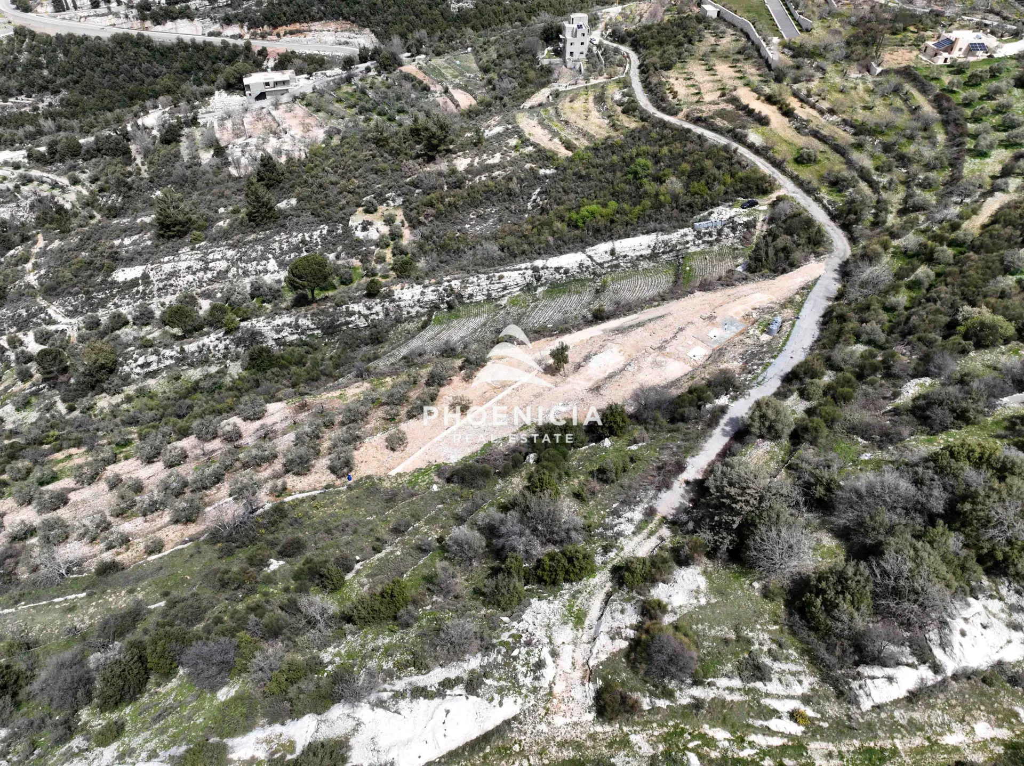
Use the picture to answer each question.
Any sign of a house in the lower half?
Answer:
No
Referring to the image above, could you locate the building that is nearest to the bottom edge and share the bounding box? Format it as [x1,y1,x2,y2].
[242,67,312,101]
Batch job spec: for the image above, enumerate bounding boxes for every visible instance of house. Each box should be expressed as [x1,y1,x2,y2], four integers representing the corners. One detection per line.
[914,27,994,68]
[242,67,312,101]
[561,10,591,60]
